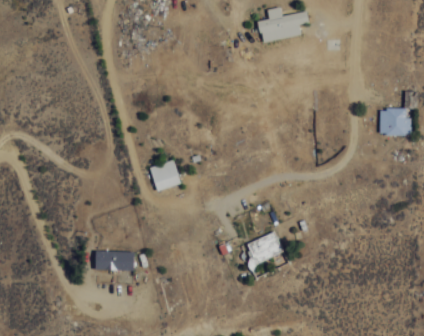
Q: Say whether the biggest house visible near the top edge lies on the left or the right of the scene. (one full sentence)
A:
You can find the biggest house visible near the top edge on the right side of the picture.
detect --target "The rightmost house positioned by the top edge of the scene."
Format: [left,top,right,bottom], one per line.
[259,6,310,42]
